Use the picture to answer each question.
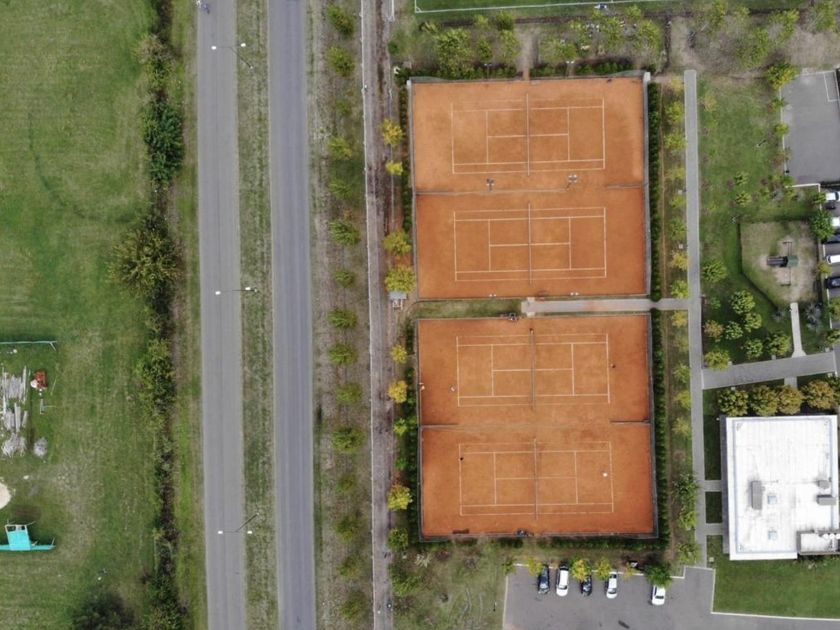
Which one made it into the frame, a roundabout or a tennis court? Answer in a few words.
tennis court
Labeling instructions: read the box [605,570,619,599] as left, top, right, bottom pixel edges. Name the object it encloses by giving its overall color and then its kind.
white vehicle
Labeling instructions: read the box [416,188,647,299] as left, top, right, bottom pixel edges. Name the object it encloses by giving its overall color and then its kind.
orange tennis court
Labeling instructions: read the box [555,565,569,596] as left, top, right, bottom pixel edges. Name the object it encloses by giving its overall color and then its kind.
white vehicle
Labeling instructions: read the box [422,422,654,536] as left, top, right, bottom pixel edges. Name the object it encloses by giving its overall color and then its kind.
orange tennis court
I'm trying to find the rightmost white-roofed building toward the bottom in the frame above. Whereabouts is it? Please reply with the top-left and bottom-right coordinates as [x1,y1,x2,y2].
[719,413,840,560]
